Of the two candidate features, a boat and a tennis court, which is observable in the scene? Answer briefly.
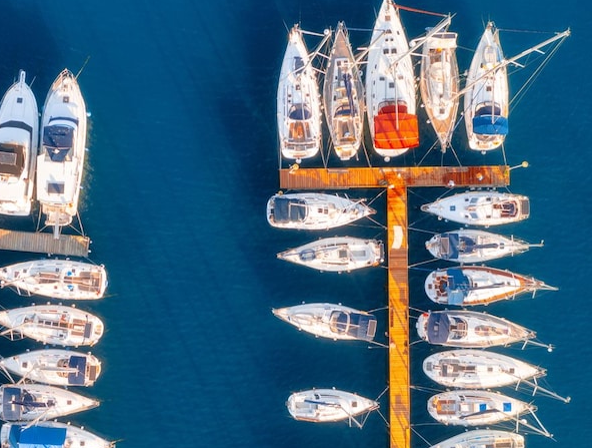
boat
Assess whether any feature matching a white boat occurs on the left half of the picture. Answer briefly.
Yes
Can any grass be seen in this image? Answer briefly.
No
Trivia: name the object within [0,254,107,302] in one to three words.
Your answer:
boat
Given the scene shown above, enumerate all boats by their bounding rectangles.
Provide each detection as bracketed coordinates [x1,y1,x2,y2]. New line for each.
[273,23,327,171]
[411,264,564,308]
[0,345,102,385]
[410,226,549,266]
[410,188,530,229]
[0,301,104,347]
[287,383,395,429]
[269,298,393,346]
[0,418,114,448]
[0,254,107,302]
[417,26,500,171]
[413,425,526,448]
[413,383,557,439]
[267,191,393,232]
[411,307,555,352]
[323,19,385,171]
[0,380,102,427]
[274,232,392,274]
[33,64,91,238]
[361,0,452,171]
[411,345,574,401]
[458,20,571,171]
[0,65,40,231]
